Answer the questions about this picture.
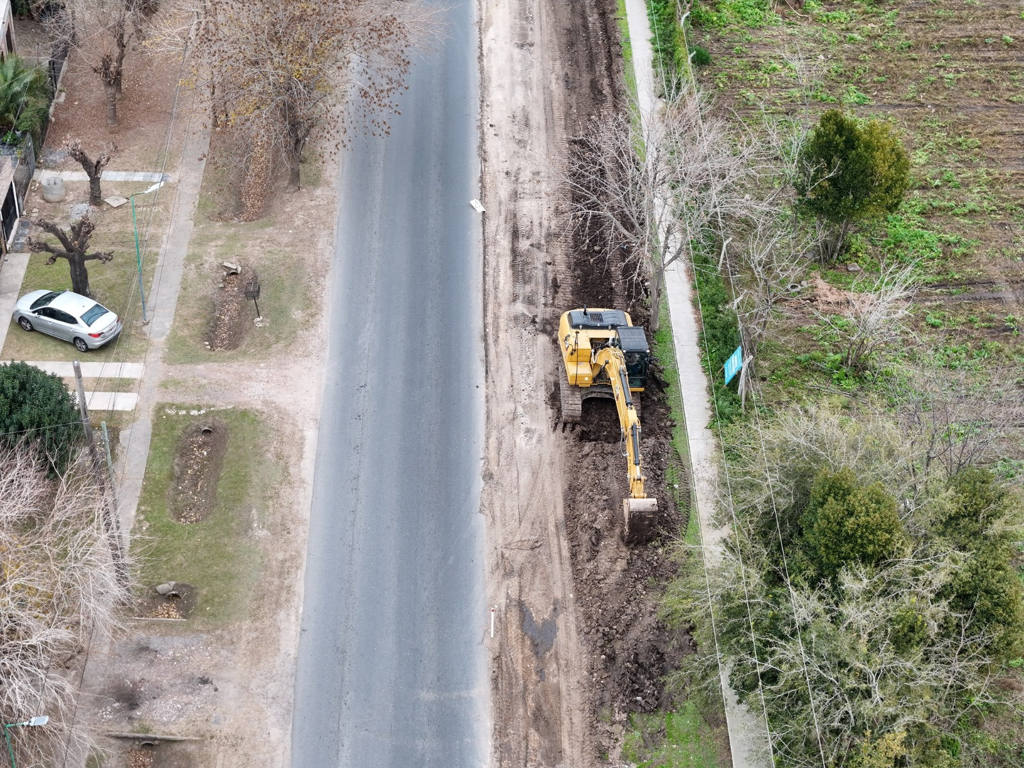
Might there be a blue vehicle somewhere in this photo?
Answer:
No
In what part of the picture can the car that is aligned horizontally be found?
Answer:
left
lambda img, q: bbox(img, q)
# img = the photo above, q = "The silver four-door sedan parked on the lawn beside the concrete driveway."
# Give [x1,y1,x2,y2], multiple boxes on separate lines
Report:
[10,291,123,352]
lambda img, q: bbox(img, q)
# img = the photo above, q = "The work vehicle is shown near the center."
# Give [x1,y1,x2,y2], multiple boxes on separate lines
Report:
[558,306,659,544]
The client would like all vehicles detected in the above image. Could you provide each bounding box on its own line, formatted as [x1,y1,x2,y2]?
[10,291,123,352]
[558,306,659,544]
